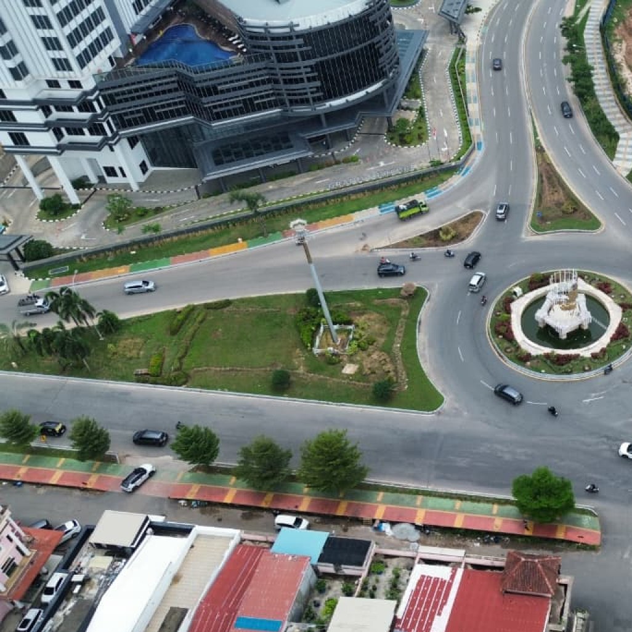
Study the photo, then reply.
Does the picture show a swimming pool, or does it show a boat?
swimming pool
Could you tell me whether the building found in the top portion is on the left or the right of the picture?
left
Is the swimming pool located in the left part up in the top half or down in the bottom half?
top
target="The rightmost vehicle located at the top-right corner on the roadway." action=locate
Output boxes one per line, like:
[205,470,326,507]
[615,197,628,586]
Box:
[560,101,573,118]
